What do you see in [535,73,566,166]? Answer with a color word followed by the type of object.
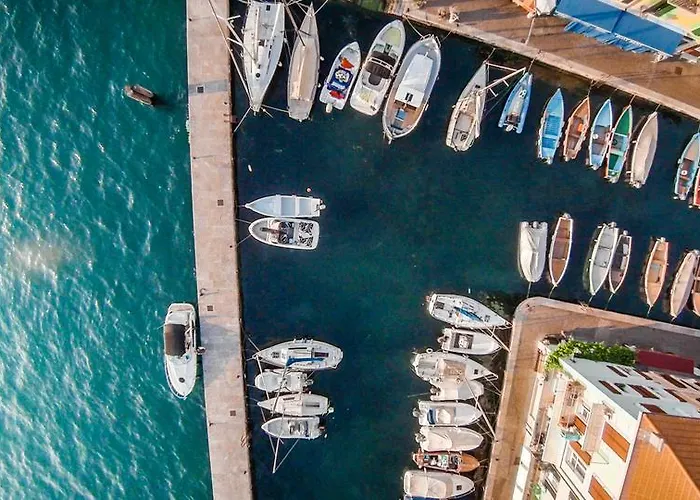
blue boat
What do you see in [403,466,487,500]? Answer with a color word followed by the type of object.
white boat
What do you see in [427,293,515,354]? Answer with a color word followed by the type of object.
white boat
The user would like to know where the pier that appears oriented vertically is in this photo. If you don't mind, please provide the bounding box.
[186,0,257,500]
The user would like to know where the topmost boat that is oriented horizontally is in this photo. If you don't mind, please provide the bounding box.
[239,194,324,220]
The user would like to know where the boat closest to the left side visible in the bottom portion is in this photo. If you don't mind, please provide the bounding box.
[136,294,206,404]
